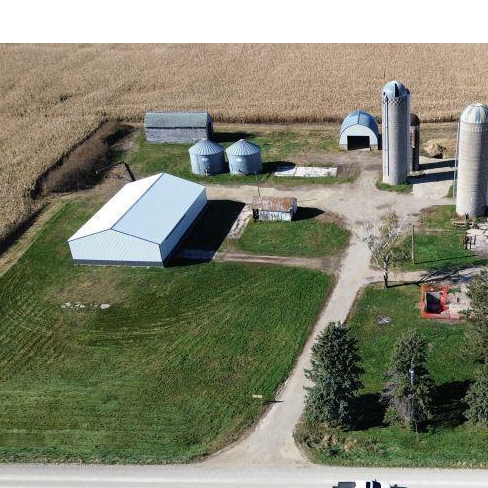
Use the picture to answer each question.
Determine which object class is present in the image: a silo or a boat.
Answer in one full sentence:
Of the two, only a silo appears.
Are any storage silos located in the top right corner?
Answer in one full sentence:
Yes, a storage silo is visible in the top right corner.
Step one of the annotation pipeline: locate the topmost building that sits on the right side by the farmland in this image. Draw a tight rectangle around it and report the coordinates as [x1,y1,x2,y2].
[340,109,379,150]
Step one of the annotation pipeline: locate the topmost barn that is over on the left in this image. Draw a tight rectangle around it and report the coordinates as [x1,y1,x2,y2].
[142,110,216,142]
